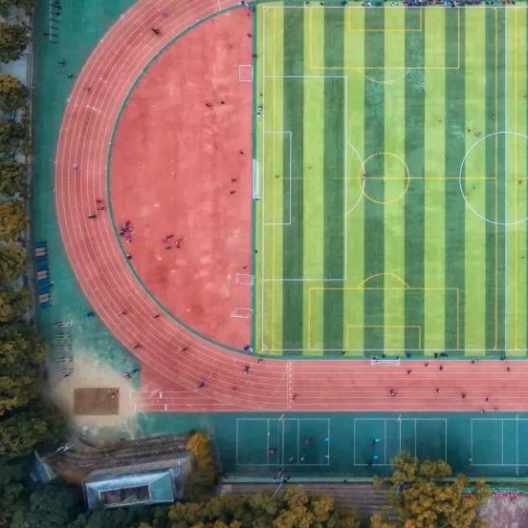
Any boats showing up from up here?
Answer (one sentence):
No, there isn't any boat down there.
